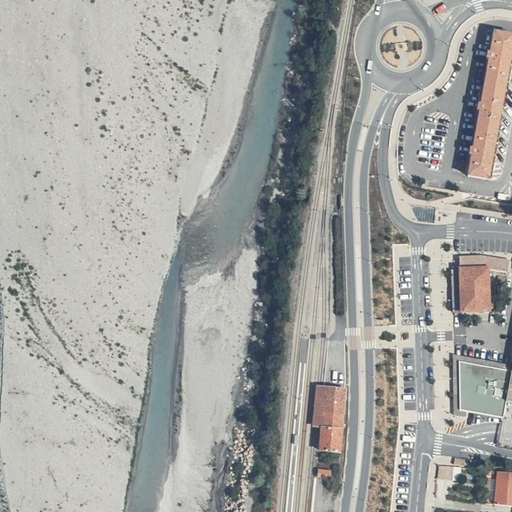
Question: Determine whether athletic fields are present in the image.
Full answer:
No, I can see no athletic field in this picture.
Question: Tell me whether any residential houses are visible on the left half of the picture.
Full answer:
No, there's no residential house to be seen on the left half of the picture.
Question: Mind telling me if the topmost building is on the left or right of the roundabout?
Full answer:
Relative to the roundabout, the topmost building is on the right.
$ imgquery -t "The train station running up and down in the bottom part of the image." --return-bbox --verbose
[286,339,348,512]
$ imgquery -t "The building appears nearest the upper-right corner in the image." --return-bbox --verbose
[468,28,512,180]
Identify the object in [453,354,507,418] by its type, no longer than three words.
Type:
building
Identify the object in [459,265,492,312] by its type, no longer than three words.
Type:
house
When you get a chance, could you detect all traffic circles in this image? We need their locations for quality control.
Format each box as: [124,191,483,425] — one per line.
[355,0,462,94]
